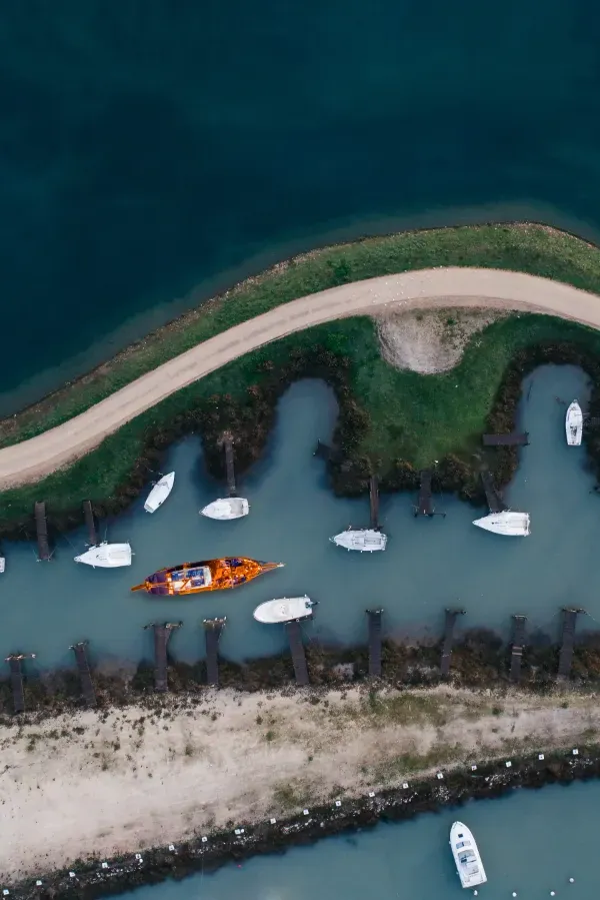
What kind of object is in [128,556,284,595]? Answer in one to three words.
ship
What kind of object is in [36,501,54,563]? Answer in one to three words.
pier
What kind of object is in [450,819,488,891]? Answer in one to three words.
boat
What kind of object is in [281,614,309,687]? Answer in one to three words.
pier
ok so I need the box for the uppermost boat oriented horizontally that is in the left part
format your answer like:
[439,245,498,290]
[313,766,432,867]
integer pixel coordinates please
[198,497,252,520]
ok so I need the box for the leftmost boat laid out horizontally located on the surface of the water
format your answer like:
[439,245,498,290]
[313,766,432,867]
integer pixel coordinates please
[71,542,136,567]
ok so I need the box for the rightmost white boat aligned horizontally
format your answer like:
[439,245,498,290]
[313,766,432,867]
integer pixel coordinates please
[471,509,534,538]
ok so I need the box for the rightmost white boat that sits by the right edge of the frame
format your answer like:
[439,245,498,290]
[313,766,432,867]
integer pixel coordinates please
[564,398,587,446]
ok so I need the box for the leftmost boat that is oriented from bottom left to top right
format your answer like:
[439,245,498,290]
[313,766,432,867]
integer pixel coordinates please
[145,472,175,513]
